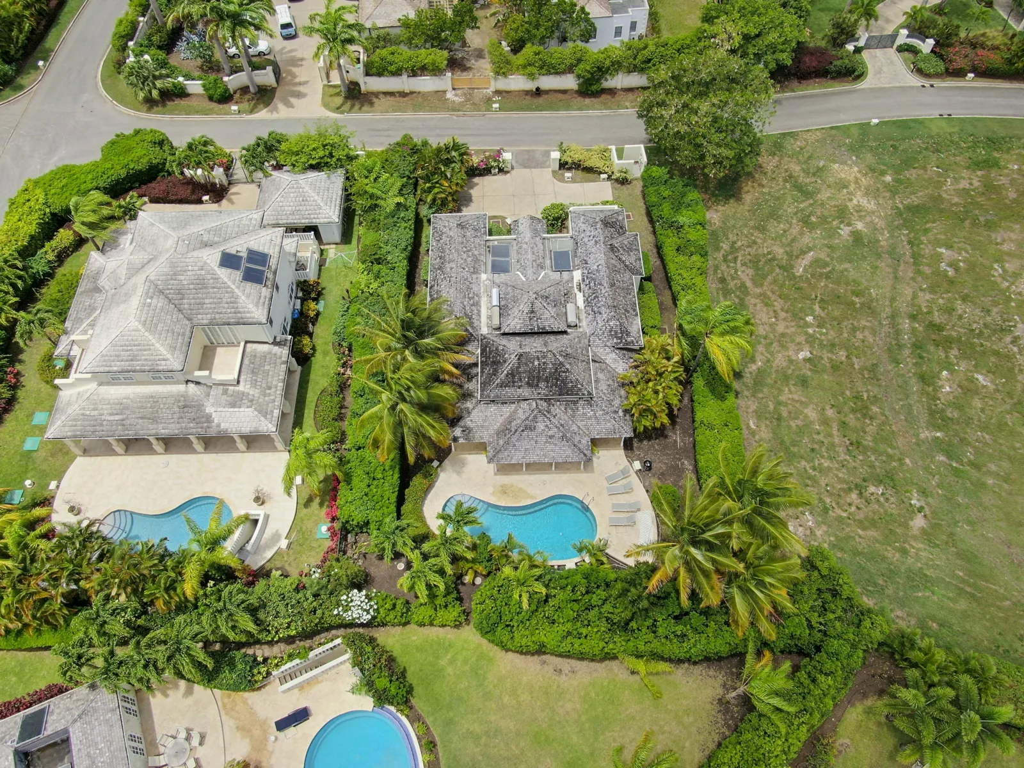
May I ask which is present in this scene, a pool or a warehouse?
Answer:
pool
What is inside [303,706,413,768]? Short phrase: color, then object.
blue swimming pool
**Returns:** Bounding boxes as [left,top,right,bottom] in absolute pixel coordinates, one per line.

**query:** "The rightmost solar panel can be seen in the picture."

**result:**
[552,249,572,271]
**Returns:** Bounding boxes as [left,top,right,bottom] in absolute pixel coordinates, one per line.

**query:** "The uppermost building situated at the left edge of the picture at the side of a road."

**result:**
[44,209,325,456]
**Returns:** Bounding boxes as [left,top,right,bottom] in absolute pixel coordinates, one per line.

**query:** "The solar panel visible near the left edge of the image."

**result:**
[14,704,49,747]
